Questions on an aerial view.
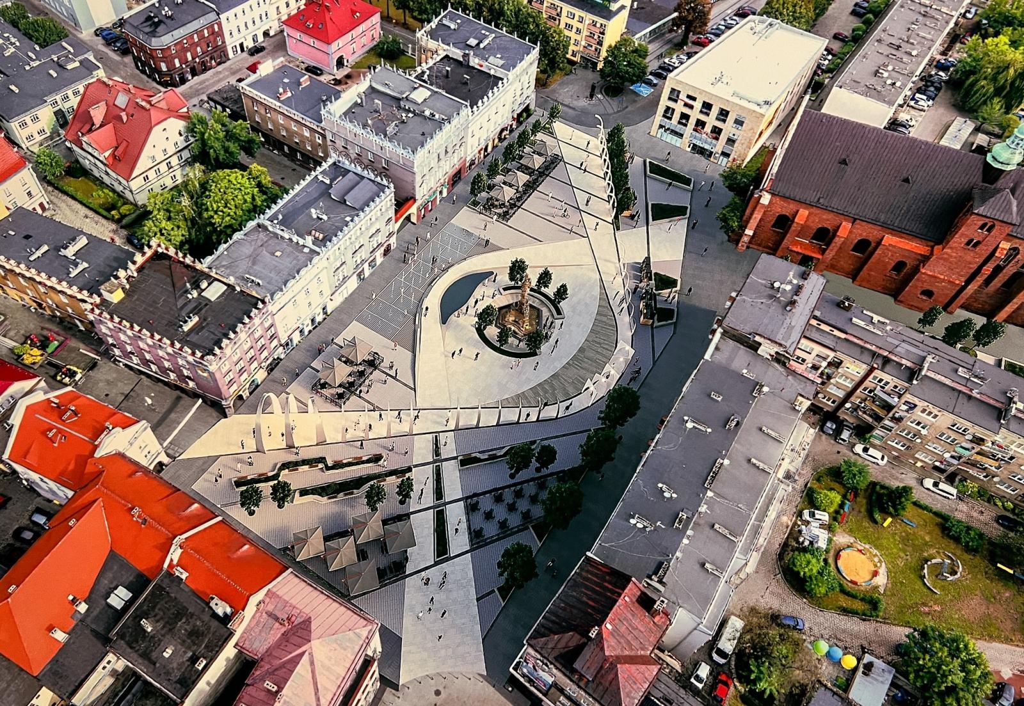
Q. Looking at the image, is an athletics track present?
No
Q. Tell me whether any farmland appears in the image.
No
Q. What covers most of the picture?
buildings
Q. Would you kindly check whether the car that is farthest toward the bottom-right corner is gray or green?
gray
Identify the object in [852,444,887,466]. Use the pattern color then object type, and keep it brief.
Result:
white car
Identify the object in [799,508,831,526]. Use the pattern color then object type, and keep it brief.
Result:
white car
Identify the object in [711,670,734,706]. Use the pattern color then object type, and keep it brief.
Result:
red car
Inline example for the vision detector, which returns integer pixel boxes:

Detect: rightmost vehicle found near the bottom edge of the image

[990,676,1020,706]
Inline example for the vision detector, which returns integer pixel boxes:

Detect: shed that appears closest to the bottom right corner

[839,654,895,706]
